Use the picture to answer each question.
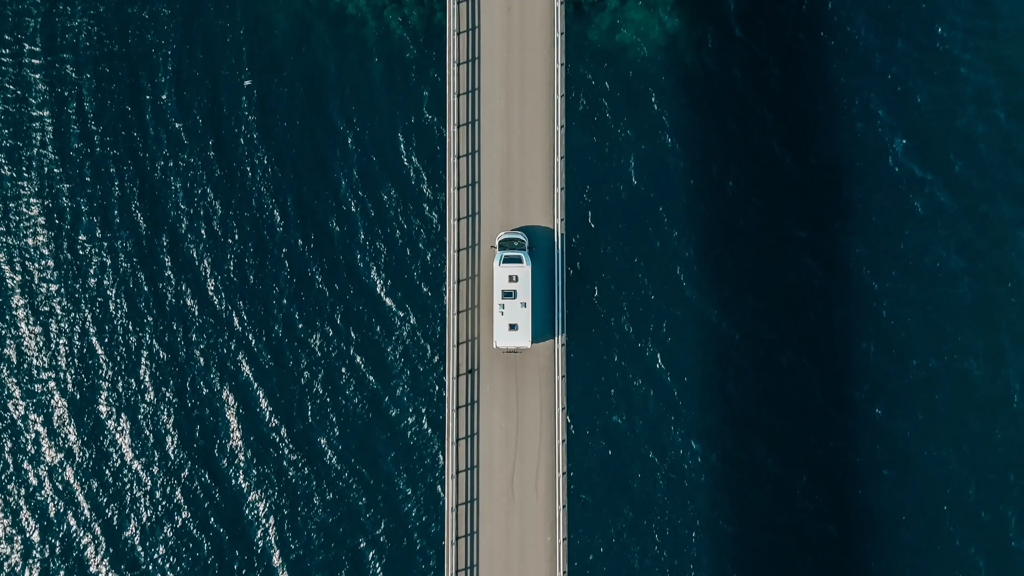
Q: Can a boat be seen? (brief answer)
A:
No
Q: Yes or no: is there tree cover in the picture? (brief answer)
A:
No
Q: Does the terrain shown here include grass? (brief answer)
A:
No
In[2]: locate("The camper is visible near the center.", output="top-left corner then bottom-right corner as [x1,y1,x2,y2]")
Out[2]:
[490,231,534,354]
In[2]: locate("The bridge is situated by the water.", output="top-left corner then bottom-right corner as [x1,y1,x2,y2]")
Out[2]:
[445,0,566,576]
